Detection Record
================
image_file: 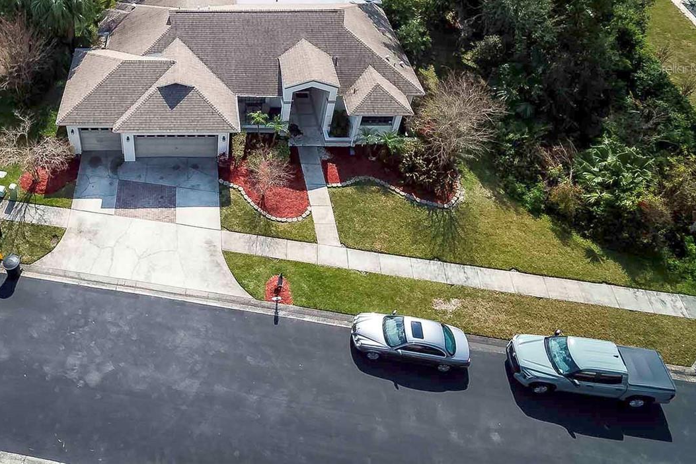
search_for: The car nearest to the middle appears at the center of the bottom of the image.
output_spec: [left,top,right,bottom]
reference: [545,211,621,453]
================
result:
[351,312,474,374]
